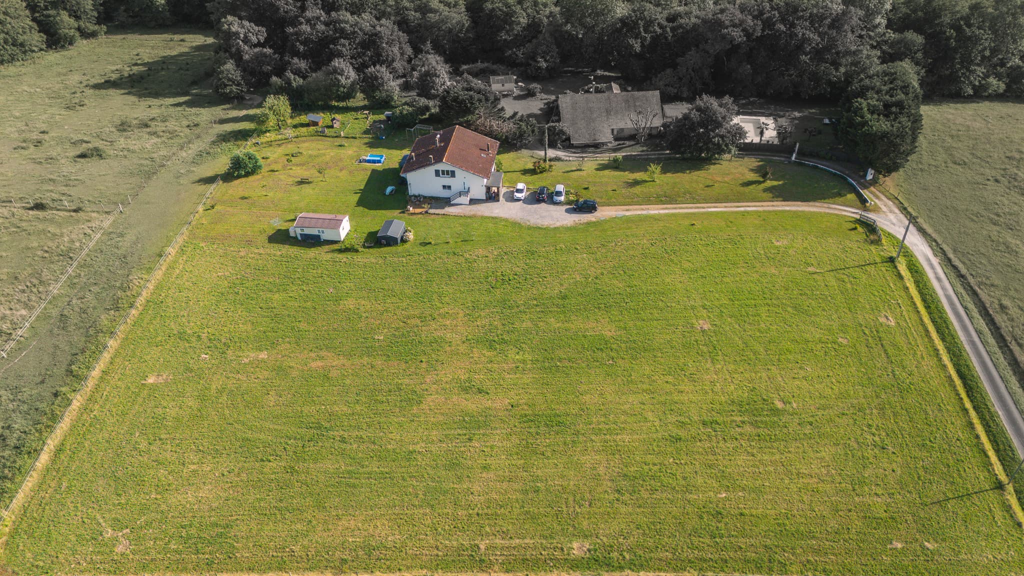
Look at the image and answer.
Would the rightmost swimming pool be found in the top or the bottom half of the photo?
top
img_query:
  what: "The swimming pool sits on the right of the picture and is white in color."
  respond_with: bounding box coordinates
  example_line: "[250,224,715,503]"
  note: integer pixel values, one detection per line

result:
[733,115,780,144]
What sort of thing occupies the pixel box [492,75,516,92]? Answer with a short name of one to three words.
shed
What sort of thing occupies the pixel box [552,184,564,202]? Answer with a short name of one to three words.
vehicle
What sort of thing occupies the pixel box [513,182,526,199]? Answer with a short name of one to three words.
vehicle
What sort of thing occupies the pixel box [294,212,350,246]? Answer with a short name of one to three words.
building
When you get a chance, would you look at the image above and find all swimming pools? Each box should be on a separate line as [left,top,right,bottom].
[733,115,780,144]
[366,154,384,163]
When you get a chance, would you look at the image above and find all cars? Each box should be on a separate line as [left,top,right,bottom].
[536,186,548,200]
[571,197,599,212]
[513,182,526,199]
[552,184,564,202]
